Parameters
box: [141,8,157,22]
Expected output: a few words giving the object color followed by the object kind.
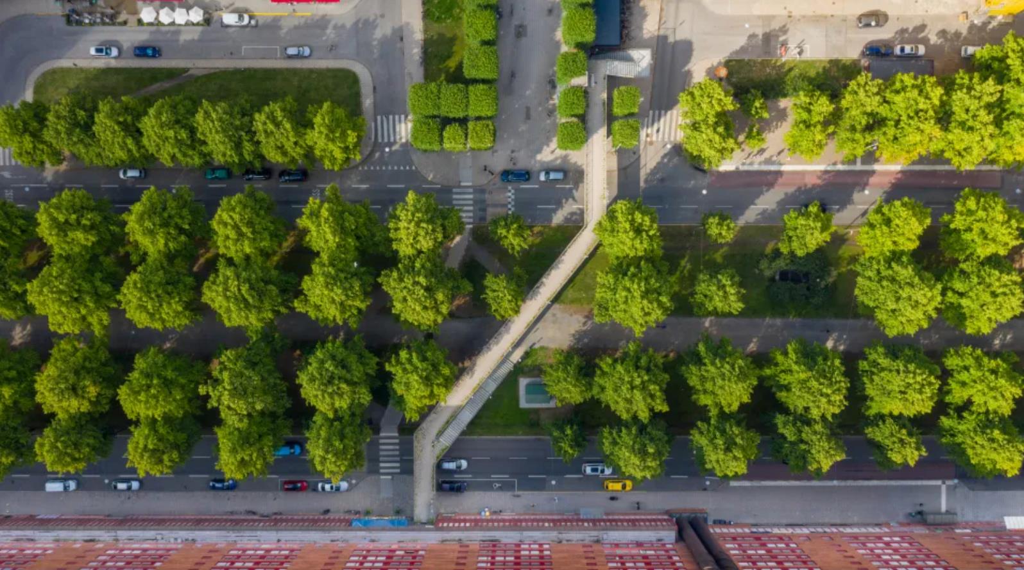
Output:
white umbrella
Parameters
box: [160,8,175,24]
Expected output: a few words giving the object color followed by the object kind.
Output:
white umbrella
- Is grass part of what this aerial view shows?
Yes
